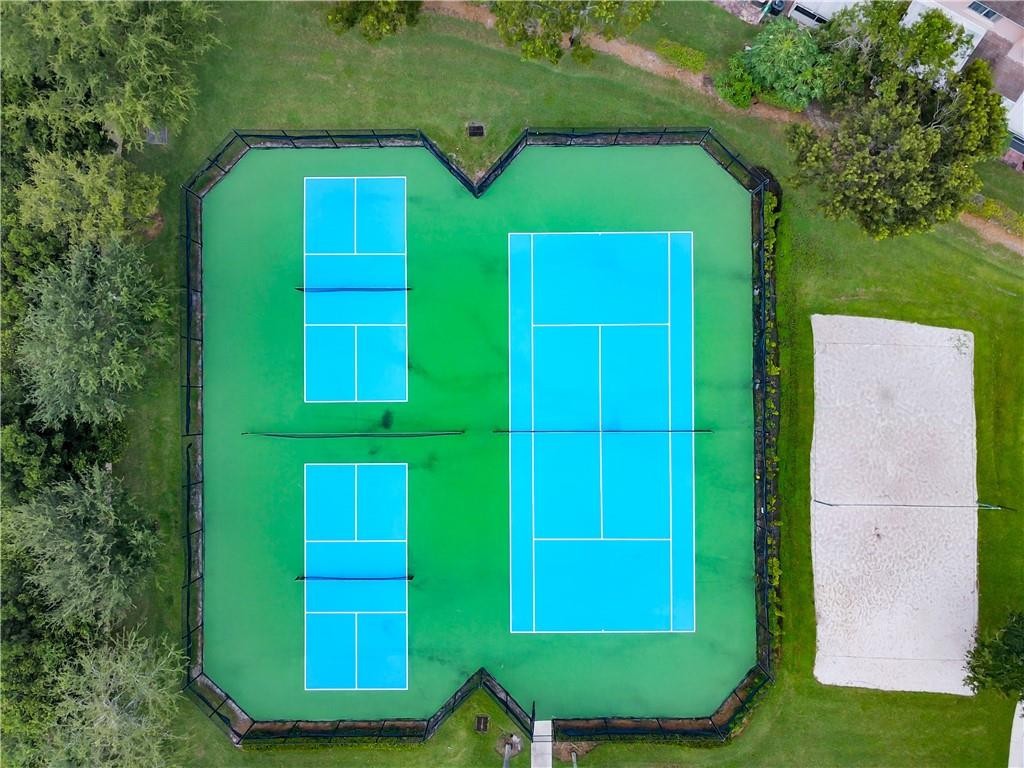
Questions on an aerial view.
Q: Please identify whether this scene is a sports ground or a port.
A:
sports ground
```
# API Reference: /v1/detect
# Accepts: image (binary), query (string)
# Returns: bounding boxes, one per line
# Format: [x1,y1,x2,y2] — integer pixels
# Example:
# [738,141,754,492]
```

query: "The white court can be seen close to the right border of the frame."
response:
[810,314,979,695]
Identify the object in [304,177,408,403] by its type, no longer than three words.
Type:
sports court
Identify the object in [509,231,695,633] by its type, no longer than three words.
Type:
tennis court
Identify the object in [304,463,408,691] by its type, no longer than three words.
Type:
sports court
